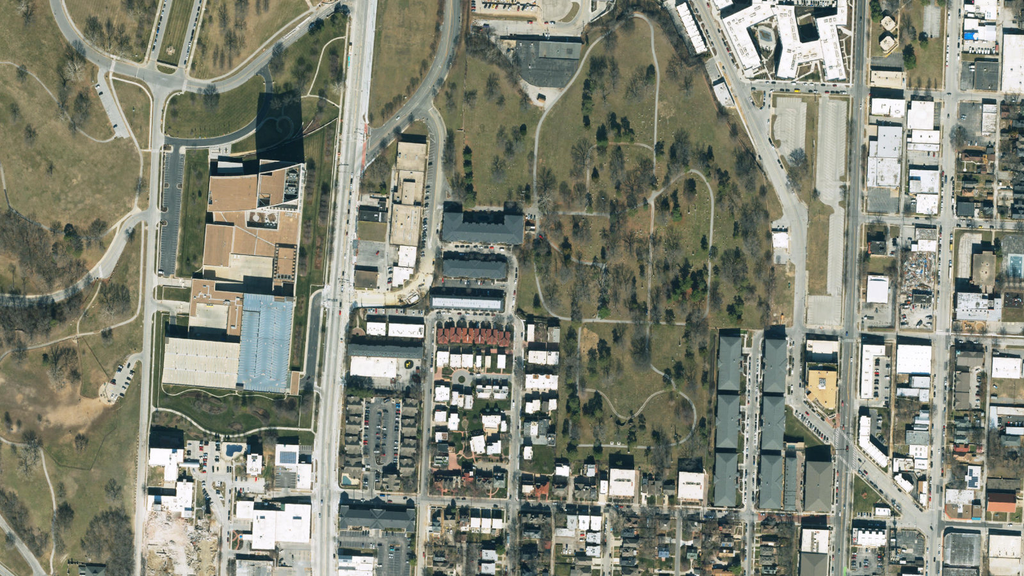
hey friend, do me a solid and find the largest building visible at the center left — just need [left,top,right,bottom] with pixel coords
[190,160,306,336]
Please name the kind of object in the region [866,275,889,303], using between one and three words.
shed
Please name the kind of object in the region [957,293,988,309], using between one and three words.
building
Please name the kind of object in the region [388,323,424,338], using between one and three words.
house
